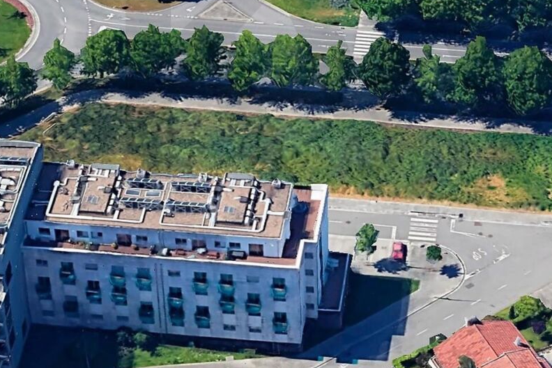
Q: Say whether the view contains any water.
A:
No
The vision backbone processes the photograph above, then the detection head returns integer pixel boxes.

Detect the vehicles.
[393,241,406,263]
